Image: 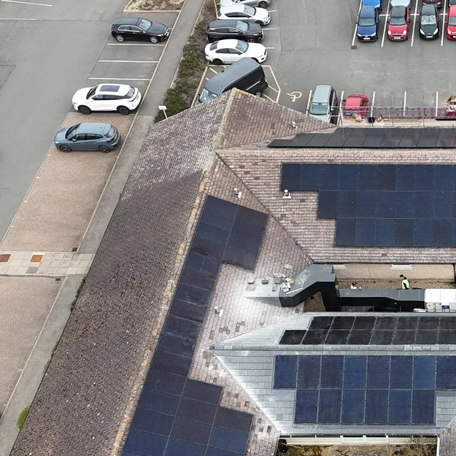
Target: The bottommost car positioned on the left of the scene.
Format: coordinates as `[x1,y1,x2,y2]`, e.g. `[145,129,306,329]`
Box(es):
[54,121,119,152]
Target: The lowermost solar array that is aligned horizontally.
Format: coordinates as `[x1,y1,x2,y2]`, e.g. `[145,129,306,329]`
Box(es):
[272,356,456,425]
